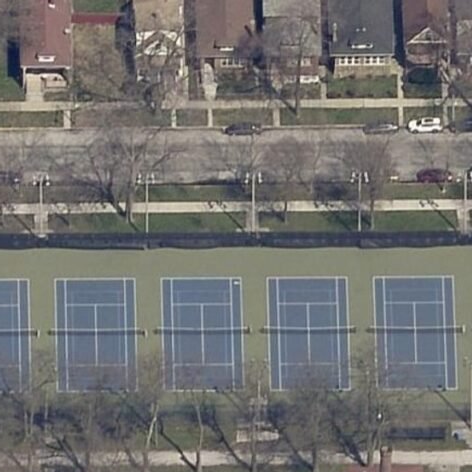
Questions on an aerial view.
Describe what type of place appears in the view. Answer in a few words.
residential area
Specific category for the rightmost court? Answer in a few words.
tennis court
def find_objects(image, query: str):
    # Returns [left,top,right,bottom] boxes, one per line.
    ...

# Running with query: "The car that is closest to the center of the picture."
[226,122,261,137]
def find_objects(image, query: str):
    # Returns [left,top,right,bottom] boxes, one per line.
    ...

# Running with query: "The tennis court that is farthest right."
[372,275,458,389]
